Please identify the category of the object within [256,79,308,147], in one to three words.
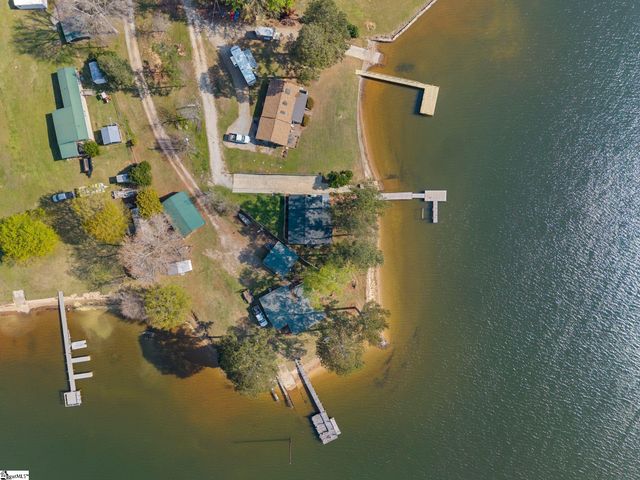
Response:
house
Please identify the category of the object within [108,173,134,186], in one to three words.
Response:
vehicle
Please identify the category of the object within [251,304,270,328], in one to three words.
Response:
vehicle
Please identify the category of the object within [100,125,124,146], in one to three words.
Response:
shed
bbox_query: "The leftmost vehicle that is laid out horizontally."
[51,191,78,204]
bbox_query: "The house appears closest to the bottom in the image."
[261,283,326,334]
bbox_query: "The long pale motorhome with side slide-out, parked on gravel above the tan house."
[230,44,260,91]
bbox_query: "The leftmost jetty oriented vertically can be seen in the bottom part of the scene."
[56,291,94,408]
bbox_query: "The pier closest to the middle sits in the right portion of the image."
[380,189,447,222]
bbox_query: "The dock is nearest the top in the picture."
[356,68,439,117]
